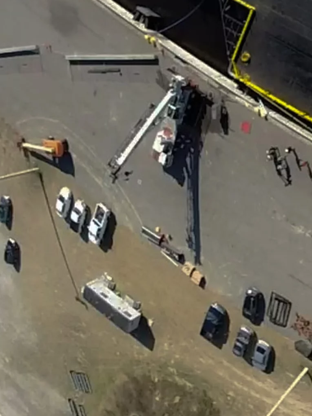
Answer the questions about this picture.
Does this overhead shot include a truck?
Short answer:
Yes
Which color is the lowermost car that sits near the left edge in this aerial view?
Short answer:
black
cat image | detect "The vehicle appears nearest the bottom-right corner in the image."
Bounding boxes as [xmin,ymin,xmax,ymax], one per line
[251,336,275,371]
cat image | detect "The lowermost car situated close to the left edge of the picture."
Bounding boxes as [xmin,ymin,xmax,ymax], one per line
[2,236,26,266]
